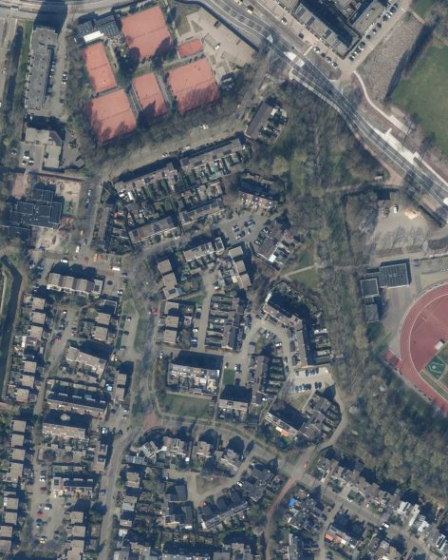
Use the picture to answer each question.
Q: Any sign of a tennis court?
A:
Yes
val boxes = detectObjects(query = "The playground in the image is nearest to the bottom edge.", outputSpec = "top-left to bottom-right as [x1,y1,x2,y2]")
[38,231,63,252]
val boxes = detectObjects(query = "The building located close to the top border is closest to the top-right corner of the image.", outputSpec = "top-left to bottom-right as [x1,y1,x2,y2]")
[352,0,390,33]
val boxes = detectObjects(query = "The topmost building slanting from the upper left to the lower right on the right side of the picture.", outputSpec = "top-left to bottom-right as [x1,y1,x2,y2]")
[291,0,347,54]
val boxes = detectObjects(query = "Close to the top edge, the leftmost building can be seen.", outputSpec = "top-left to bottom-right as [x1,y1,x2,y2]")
[20,25,53,113]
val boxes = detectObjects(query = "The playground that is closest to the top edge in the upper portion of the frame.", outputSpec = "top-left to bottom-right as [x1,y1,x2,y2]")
[57,183,81,219]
